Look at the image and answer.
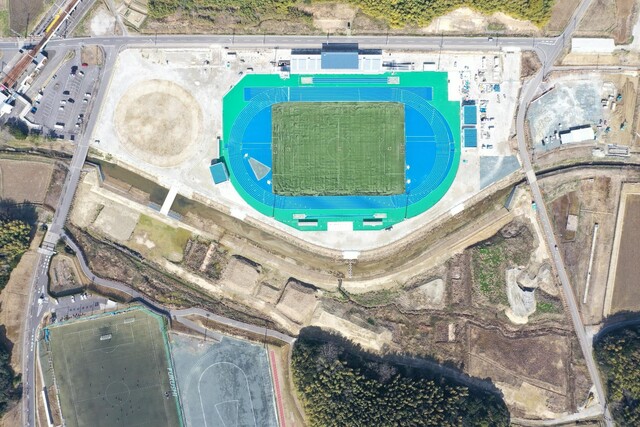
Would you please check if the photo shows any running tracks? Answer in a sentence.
Yes, looking at the shot, I can spot a running track.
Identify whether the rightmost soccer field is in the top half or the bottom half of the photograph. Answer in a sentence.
The rightmost soccer field is in the top half of the image.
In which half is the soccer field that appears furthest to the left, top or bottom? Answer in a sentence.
The bottom half of the photo is where the soccer field that appears furthest to the left is.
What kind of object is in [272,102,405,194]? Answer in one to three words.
soccer field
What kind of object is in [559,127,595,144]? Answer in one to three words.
building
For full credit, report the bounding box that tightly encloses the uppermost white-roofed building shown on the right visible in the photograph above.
[569,38,615,54]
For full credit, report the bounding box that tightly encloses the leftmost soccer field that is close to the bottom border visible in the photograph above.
[48,306,189,427]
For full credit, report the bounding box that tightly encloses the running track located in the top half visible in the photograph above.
[222,72,460,231]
